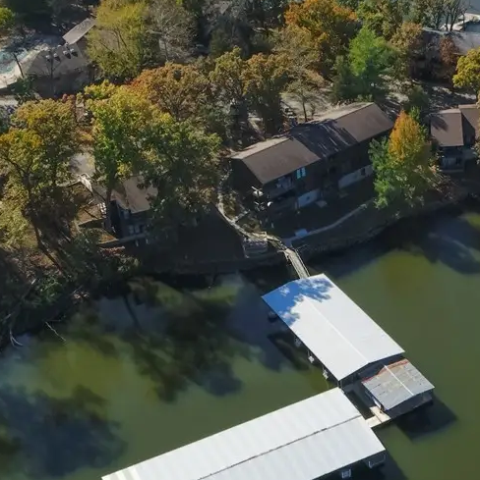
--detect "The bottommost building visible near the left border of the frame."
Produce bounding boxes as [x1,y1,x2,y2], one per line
[21,42,94,83]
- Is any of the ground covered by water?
Yes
